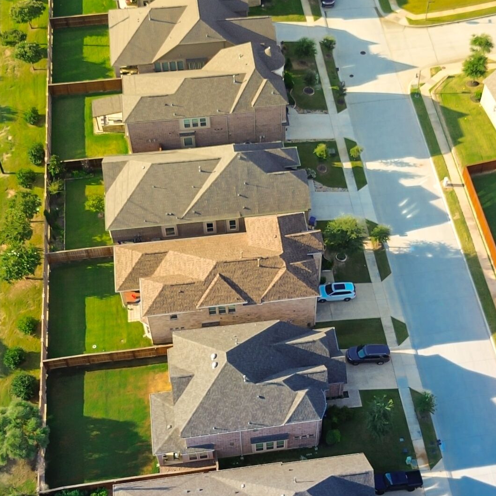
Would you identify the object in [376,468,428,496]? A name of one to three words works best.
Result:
truck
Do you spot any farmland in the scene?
No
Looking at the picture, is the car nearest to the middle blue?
Yes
